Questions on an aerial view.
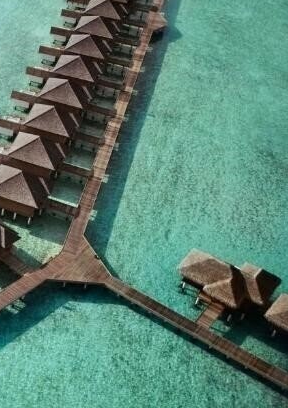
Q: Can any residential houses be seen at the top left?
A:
Yes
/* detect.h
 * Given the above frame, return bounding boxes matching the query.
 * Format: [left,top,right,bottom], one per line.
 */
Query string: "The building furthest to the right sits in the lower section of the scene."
[265,294,288,339]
